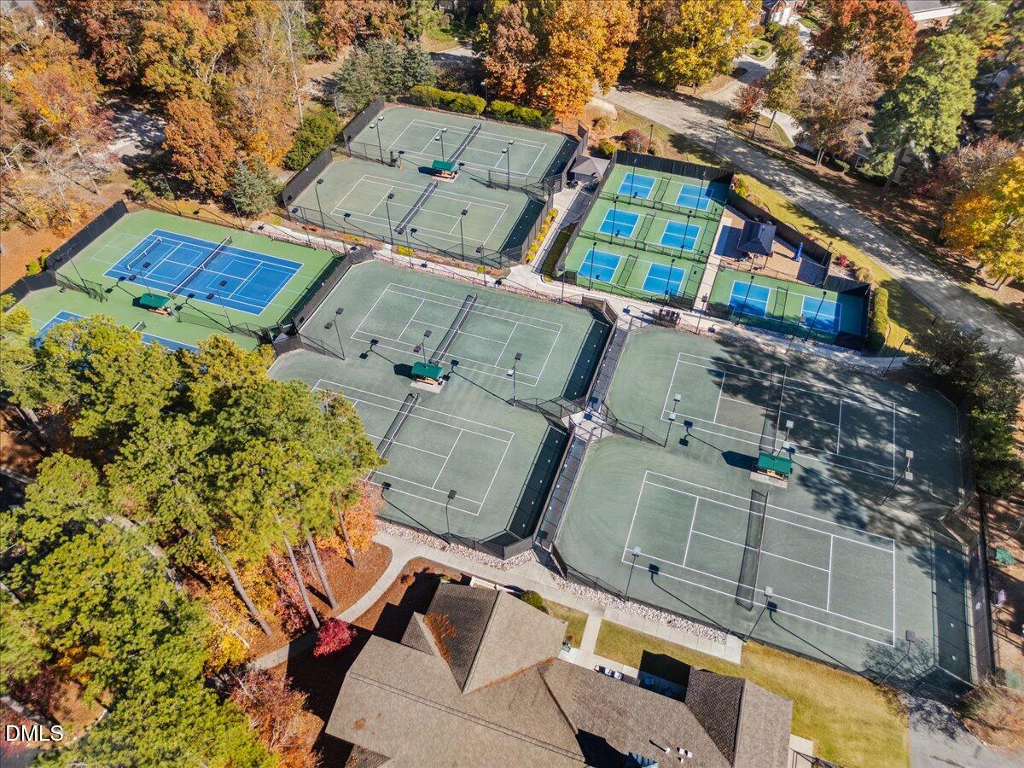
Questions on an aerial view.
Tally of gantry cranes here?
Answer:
0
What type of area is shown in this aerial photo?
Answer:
sports ground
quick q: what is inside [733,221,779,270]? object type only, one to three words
building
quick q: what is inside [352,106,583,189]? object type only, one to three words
tennis court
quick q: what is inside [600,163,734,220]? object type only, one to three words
sports court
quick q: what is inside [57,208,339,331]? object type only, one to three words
tennis court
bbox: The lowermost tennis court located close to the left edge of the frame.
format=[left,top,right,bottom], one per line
[0,285,266,417]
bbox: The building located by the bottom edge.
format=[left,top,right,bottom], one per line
[326,579,792,768]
